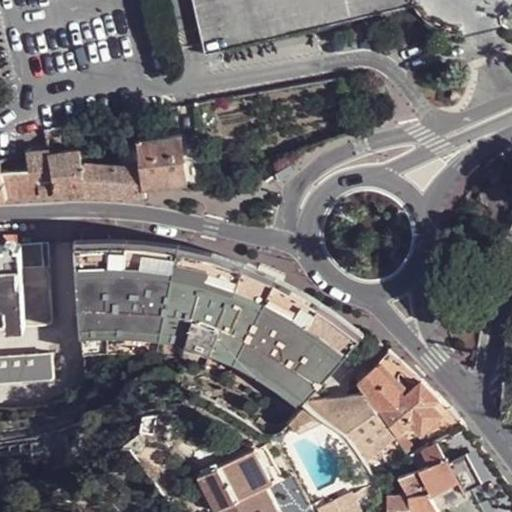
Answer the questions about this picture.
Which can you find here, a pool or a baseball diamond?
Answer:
pool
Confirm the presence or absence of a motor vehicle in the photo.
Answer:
Yes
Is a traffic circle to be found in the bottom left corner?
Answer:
No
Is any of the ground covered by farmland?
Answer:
No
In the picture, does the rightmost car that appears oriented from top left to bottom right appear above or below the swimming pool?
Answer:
above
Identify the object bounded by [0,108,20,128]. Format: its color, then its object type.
white car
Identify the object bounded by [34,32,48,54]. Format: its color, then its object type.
white vehicle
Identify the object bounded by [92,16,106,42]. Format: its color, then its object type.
white vehicle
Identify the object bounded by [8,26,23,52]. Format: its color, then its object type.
white car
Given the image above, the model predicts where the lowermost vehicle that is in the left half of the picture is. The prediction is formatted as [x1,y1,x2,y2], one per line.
[152,225,180,238]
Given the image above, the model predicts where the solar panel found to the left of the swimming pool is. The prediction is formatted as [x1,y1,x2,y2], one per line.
[240,458,266,490]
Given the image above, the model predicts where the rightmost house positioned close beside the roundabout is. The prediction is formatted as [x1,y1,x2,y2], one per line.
[358,352,458,443]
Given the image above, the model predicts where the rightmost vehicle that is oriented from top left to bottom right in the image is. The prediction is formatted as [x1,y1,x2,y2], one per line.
[328,284,352,304]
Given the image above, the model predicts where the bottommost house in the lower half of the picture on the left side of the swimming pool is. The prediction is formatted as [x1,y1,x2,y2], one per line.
[197,442,284,512]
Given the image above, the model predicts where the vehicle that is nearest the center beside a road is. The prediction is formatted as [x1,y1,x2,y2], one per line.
[307,268,328,292]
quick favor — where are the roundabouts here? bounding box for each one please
[296,162,436,308]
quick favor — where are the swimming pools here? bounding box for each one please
[285,421,370,498]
